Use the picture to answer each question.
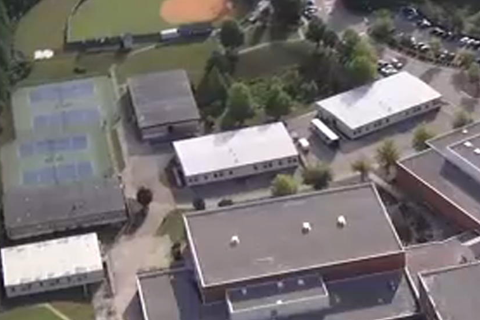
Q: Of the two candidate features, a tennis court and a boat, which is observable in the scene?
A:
tennis court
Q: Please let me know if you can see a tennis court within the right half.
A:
No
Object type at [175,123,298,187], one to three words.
building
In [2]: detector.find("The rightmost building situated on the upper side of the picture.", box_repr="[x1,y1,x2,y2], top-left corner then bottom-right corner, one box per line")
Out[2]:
[316,71,441,139]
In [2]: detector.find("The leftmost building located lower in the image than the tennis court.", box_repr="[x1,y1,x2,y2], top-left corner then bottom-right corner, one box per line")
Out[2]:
[1,232,104,296]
